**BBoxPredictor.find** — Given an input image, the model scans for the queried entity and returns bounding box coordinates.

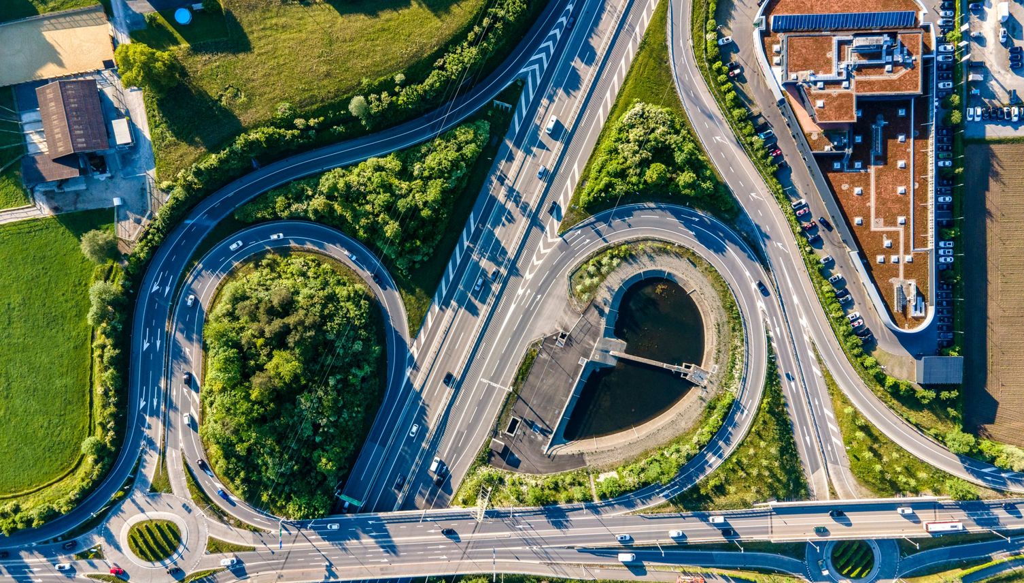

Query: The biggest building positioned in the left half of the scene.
[36,80,113,161]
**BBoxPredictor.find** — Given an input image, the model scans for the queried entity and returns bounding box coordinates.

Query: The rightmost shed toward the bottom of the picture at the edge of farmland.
[912,356,963,383]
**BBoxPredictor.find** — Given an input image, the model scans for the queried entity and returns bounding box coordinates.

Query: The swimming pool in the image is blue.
[174,8,191,25]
